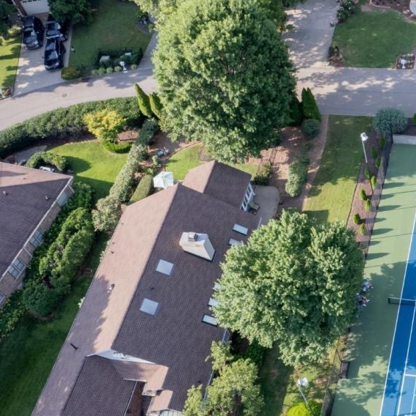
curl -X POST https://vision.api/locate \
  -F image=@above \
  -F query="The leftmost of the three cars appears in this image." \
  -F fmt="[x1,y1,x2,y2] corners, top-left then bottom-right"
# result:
[19,16,44,52]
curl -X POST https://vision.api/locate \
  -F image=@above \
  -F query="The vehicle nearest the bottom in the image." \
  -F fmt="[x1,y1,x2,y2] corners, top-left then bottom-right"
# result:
[42,38,66,71]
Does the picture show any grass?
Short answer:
Yes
